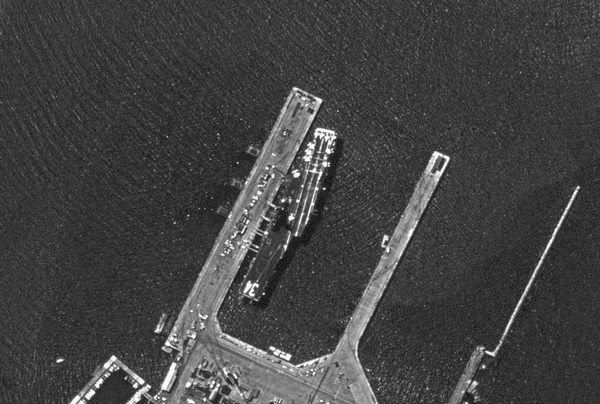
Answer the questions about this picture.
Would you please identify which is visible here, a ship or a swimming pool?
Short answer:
ship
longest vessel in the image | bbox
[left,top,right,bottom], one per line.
[239,127,338,301]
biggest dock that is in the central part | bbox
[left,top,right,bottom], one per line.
[163,87,322,352]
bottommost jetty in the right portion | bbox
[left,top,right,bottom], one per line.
[449,347,485,404]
